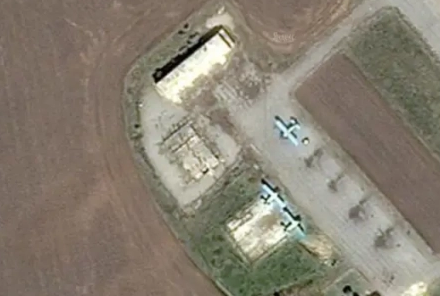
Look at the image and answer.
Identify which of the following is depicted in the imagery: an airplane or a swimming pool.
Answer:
airplane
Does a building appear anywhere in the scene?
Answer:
Yes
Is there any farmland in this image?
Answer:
Yes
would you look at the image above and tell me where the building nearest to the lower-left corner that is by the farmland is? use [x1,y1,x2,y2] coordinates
[150,111,233,186]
